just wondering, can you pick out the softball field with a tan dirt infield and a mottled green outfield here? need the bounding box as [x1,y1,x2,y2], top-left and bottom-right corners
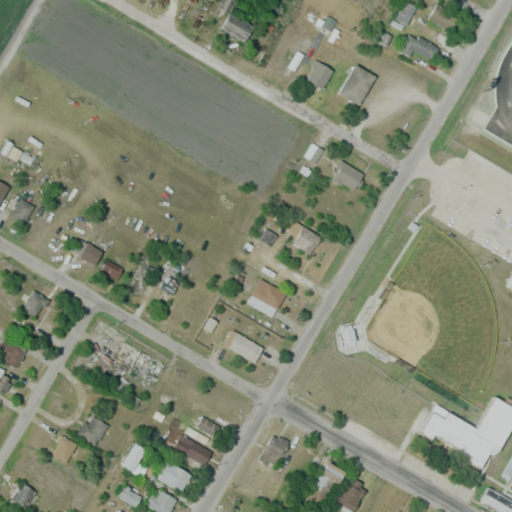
[366,226,497,404]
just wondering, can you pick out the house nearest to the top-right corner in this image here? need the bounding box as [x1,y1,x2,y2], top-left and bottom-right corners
[426,6,456,30]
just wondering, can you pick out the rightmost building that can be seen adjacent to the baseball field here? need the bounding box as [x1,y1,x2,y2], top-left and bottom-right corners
[422,398,512,469]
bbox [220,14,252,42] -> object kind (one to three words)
house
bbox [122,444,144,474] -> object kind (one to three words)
house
